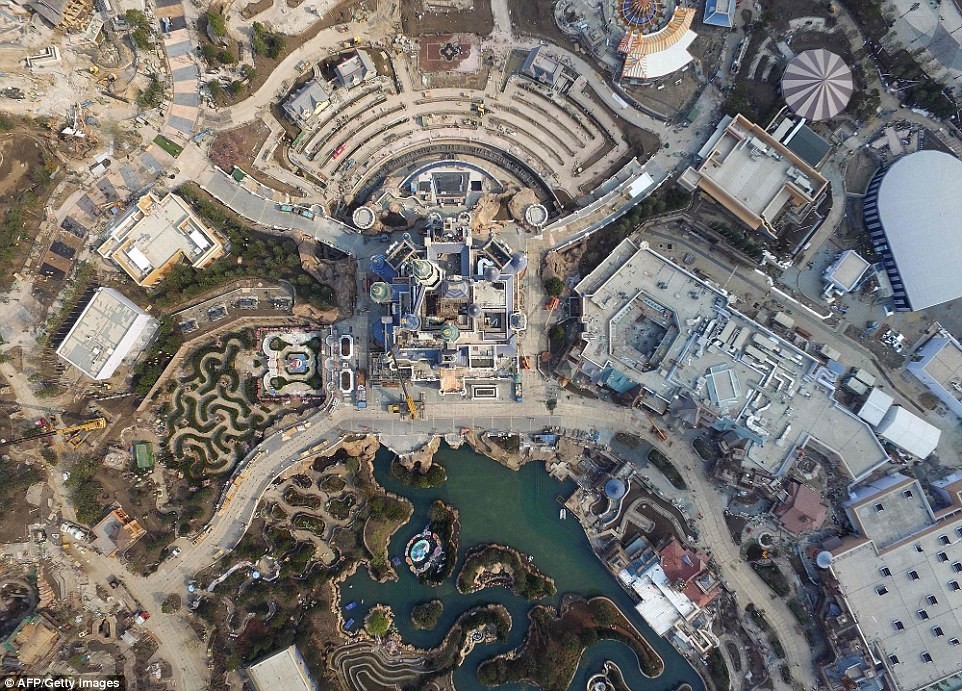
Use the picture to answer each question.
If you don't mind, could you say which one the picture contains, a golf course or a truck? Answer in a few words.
truck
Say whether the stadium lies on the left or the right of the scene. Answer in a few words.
right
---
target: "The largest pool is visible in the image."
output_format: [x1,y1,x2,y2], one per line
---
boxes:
[412,543,428,561]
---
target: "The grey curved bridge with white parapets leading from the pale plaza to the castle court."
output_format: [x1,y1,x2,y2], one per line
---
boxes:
[199,165,358,256]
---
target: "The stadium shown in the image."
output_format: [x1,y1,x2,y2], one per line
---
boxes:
[864,150,962,312]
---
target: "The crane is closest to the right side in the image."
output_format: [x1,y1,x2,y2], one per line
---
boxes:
[386,347,421,423]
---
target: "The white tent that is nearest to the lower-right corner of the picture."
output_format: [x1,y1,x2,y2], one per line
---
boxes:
[877,406,941,459]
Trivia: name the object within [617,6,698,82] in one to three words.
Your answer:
building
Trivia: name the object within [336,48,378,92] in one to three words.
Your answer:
house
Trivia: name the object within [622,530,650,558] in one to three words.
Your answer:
shed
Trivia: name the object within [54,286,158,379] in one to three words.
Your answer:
building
